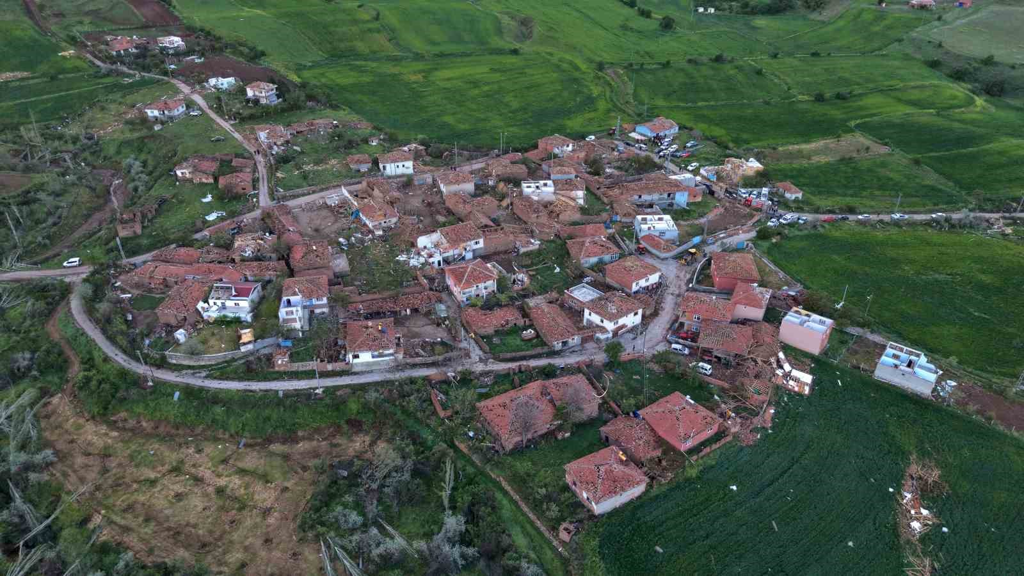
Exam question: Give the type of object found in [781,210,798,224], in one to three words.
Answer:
vehicle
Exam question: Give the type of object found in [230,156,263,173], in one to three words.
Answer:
shed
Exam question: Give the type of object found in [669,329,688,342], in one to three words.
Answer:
vehicle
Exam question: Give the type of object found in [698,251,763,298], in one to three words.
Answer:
house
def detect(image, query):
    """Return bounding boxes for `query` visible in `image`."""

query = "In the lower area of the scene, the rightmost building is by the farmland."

[876,343,943,395]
